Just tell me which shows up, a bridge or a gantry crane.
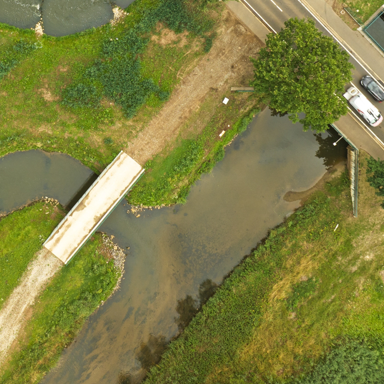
bridge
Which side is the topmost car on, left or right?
right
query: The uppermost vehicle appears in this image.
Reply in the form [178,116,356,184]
[358,76,384,104]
